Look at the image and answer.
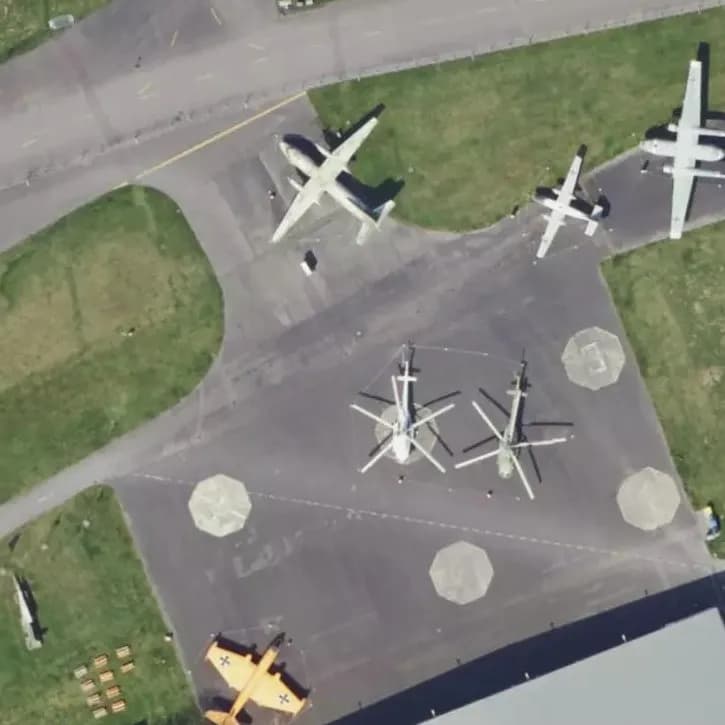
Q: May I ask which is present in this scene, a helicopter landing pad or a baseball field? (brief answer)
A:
helicopter landing pad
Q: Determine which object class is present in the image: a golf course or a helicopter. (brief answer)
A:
helicopter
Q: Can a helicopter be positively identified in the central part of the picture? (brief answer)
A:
Yes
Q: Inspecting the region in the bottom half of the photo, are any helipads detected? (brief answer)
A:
Yes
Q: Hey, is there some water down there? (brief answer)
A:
No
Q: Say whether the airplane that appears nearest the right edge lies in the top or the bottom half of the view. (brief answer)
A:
top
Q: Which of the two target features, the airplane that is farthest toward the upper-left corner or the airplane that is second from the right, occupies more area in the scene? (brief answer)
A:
the airplane that is farthest toward the upper-left corner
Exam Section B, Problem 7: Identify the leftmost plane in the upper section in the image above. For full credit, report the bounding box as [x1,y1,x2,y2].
[271,118,395,245]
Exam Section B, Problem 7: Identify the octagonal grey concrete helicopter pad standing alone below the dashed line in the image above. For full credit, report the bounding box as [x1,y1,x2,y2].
[430,541,493,604]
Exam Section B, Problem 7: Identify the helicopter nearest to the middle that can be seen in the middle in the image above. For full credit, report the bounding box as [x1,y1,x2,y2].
[352,353,455,472]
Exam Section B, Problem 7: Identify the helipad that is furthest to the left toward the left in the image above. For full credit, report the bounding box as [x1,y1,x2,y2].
[189,473,252,537]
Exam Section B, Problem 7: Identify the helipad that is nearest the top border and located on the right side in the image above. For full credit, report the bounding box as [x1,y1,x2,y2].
[562,326,625,389]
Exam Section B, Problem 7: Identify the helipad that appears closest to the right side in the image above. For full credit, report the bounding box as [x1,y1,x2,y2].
[617,467,680,530]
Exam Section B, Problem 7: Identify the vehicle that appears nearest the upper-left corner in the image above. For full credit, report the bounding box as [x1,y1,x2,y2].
[49,16,74,28]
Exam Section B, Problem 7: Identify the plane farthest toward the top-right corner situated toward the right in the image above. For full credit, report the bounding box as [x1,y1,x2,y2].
[640,62,725,238]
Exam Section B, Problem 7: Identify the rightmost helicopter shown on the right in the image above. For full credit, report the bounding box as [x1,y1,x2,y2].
[456,367,567,498]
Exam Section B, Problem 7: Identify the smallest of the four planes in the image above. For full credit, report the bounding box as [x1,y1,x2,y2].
[532,156,603,257]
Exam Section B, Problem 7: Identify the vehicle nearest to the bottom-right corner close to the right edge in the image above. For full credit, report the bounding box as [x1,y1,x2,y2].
[704,507,720,541]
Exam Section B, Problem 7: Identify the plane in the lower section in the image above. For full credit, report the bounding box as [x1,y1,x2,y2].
[203,633,306,725]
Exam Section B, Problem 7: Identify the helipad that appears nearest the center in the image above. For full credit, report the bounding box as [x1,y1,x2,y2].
[375,400,438,462]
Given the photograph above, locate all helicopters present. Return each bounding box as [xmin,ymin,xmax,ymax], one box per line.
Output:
[456,367,567,498]
[352,353,455,472]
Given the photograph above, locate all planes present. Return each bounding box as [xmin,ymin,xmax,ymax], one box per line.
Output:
[640,62,725,238]
[271,118,395,245]
[203,633,306,725]
[532,156,603,257]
